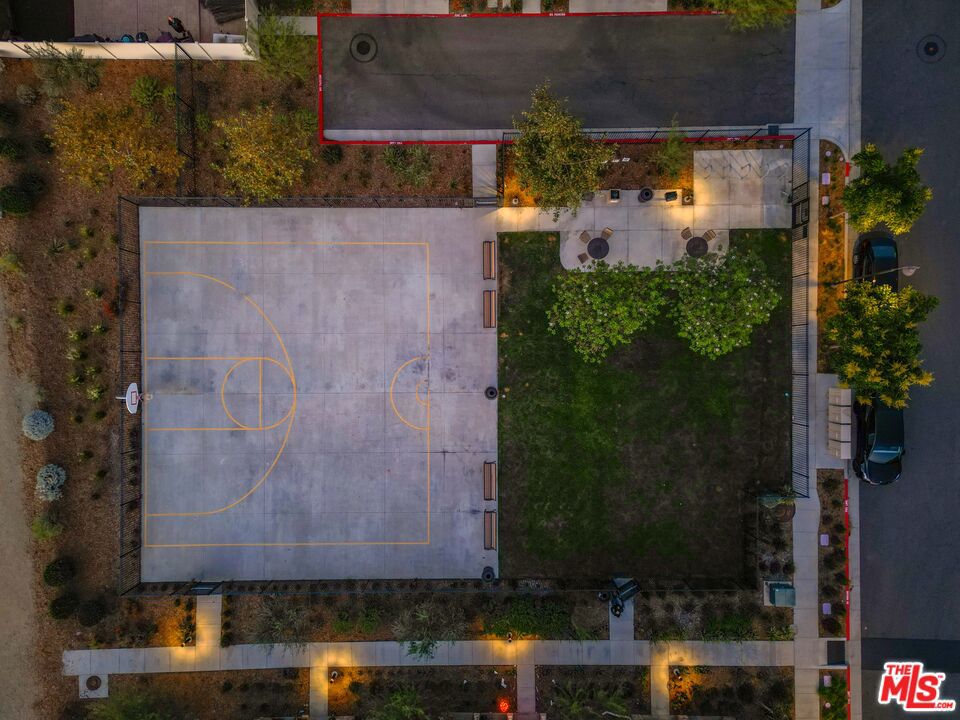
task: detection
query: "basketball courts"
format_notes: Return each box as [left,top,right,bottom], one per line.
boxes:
[139,206,499,580]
